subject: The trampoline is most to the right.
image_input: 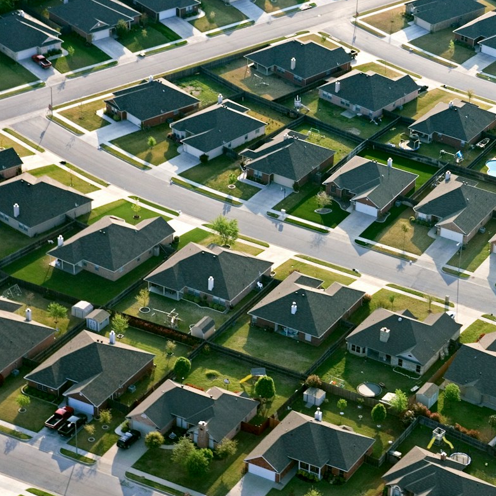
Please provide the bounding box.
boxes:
[448,445,475,466]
